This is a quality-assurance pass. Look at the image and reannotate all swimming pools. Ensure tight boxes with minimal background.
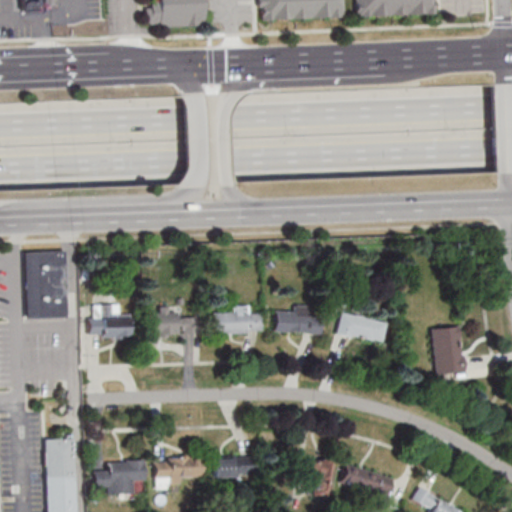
[154,494,168,508]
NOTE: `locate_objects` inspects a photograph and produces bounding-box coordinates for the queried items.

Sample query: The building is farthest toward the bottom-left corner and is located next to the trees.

[46,438,78,512]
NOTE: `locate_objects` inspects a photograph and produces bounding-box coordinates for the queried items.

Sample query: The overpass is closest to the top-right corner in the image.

[488,84,512,174]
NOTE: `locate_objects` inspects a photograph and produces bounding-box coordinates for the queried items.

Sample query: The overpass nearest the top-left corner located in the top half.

[162,84,259,199]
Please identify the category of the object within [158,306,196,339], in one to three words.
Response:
house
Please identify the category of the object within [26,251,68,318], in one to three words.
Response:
building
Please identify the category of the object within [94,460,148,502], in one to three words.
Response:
house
